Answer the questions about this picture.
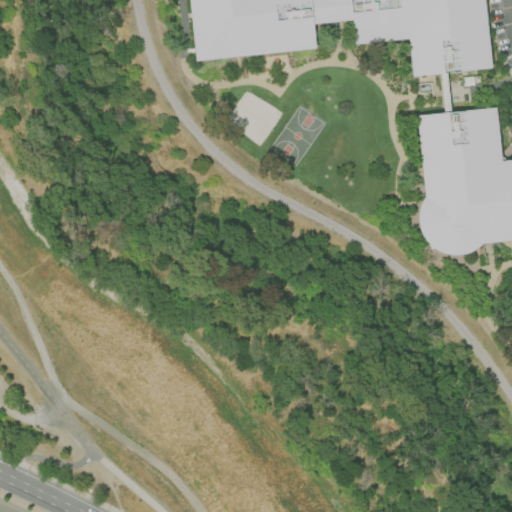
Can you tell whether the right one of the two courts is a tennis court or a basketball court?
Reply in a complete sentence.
I'd say the right one of the two courts is a basketball court.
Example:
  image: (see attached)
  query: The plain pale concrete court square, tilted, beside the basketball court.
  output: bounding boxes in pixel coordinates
[226,92,282,146]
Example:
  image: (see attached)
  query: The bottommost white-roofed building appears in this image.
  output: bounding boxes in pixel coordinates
[420,108,512,256]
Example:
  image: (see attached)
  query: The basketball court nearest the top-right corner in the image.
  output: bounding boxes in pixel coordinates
[272,106,326,164]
